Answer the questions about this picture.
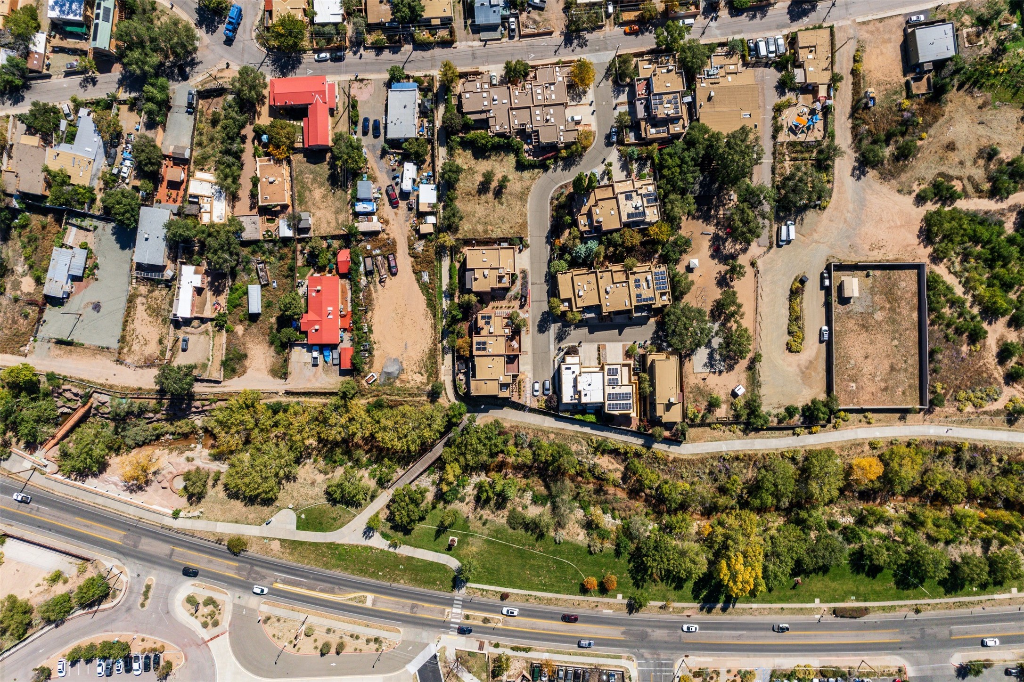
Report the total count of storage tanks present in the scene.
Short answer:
none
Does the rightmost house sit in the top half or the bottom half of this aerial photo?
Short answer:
top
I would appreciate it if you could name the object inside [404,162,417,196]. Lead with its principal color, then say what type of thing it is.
white vehicle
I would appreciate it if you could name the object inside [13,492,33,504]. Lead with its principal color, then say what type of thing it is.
white vehicle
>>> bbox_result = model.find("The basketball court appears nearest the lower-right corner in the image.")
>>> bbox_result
[693,346,729,373]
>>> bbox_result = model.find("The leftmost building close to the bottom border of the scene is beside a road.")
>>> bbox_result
[407,642,446,682]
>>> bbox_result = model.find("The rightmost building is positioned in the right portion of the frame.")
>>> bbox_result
[902,19,956,71]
